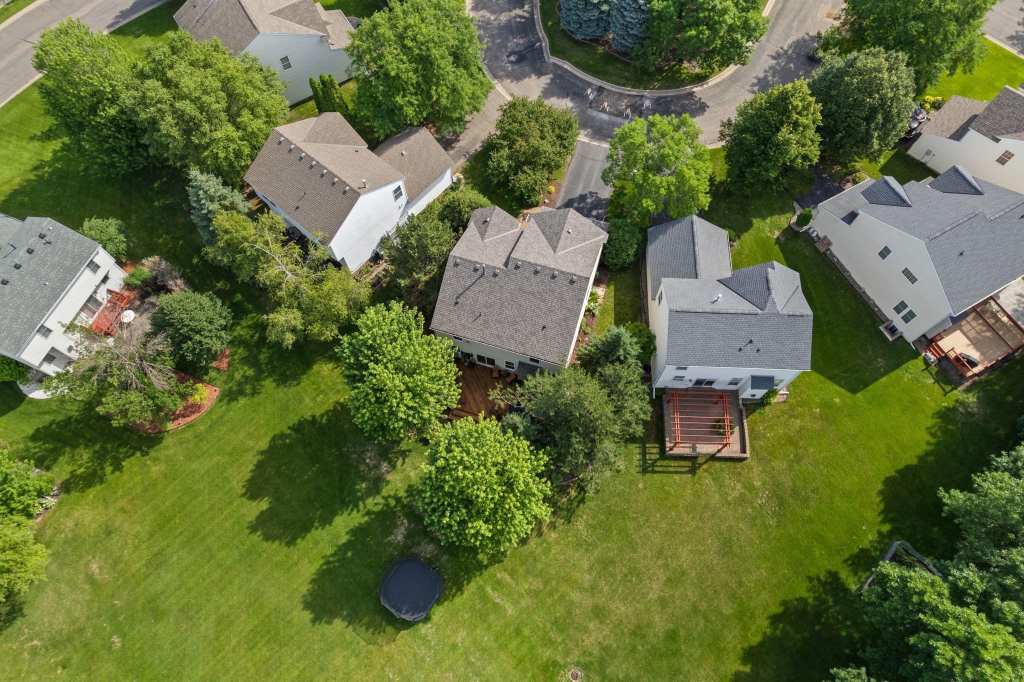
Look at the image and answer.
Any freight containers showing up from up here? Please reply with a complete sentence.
No, the frame has no freight container in it.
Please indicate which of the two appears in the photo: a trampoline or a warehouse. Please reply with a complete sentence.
The one in the frame is a trampoline.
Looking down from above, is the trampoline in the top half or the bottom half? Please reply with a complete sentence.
The bottom half of the photo is where the trampoline is.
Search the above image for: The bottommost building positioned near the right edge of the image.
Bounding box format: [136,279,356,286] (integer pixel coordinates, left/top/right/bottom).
[803,159,1024,353]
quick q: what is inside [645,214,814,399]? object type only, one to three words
house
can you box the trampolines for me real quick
[375,555,445,625]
